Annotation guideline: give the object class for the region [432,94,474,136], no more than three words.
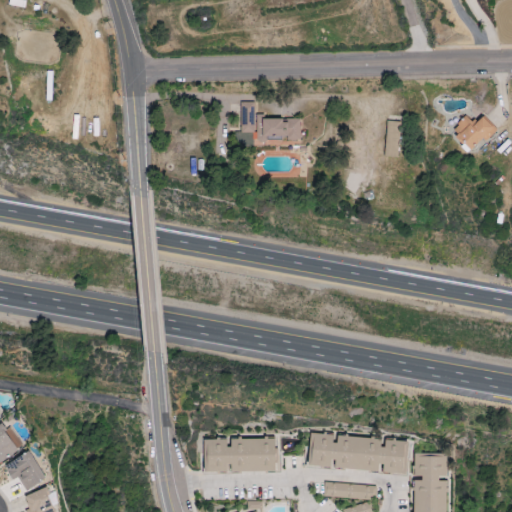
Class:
swimming pool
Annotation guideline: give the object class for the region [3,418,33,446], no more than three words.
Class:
swimming pool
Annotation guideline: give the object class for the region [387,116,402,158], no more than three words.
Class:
barn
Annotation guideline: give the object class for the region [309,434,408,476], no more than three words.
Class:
building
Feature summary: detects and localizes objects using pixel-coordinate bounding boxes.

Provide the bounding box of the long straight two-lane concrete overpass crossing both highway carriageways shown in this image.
[130,190,168,362]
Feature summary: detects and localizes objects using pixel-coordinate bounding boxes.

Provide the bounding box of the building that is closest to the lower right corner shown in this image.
[415,454,450,512]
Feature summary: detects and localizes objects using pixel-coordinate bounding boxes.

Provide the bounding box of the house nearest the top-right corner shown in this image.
[454,108,498,152]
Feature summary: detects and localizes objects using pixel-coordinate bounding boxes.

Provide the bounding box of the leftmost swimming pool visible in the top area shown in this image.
[250,142,302,177]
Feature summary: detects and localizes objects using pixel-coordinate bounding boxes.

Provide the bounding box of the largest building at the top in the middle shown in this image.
[256,112,302,142]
